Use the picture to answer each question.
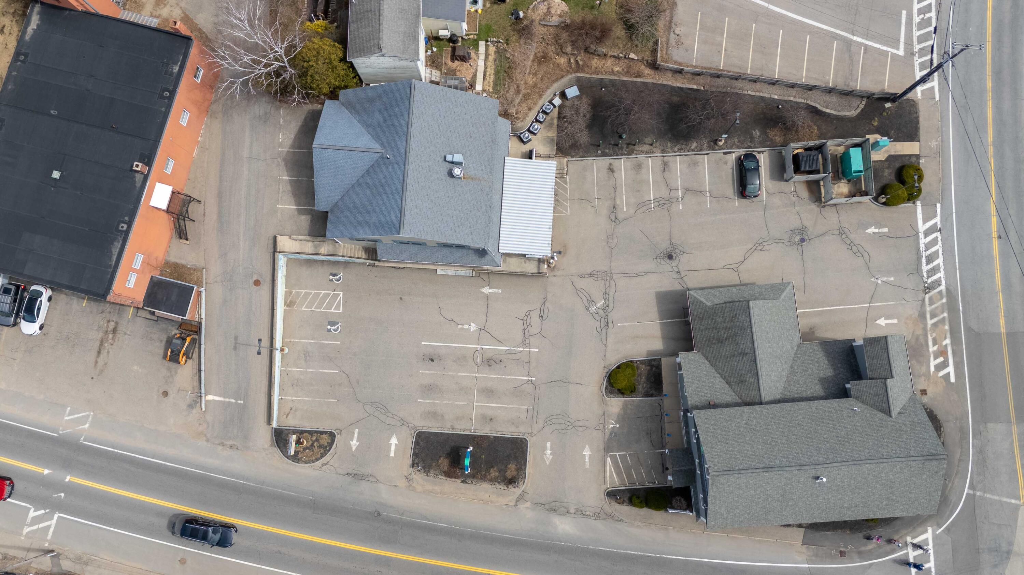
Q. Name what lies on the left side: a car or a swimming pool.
car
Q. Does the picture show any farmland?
No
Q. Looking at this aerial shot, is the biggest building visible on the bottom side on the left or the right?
right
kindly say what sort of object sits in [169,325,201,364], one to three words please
work vehicle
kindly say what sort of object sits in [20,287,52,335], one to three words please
car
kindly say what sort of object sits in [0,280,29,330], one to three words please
car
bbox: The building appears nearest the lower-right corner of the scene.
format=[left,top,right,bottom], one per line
[660,280,948,532]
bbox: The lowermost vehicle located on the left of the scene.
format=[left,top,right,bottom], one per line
[180,516,236,548]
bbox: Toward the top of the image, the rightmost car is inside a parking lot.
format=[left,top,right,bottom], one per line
[738,153,761,196]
